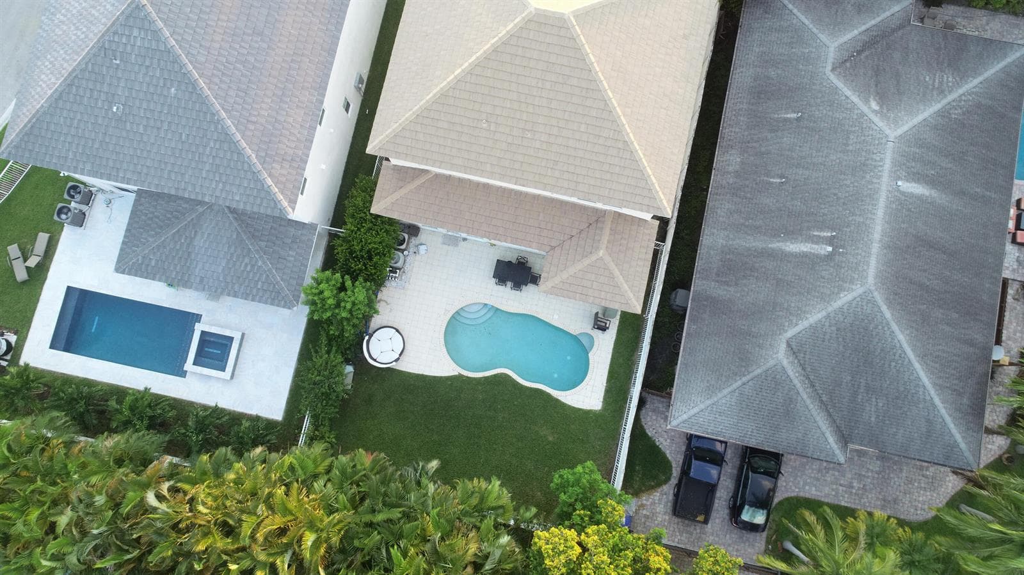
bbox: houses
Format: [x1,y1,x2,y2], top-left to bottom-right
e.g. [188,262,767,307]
[365,0,717,315]
[666,0,1024,470]
[0,0,388,313]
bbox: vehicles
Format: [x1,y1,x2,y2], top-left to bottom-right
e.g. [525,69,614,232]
[725,441,785,534]
[671,430,730,523]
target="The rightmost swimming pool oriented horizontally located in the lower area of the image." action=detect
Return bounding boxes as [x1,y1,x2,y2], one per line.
[437,296,601,397]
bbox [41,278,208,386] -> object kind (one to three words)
swimming pool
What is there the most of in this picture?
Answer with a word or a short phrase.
buildings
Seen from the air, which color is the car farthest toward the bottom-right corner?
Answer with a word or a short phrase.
black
